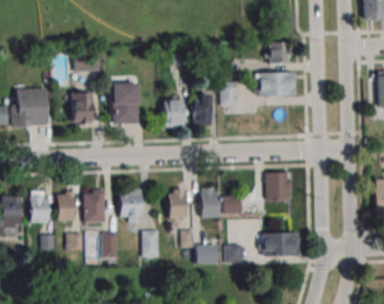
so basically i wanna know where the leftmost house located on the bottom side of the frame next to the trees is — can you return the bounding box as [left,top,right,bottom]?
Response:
[0,197,24,238]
